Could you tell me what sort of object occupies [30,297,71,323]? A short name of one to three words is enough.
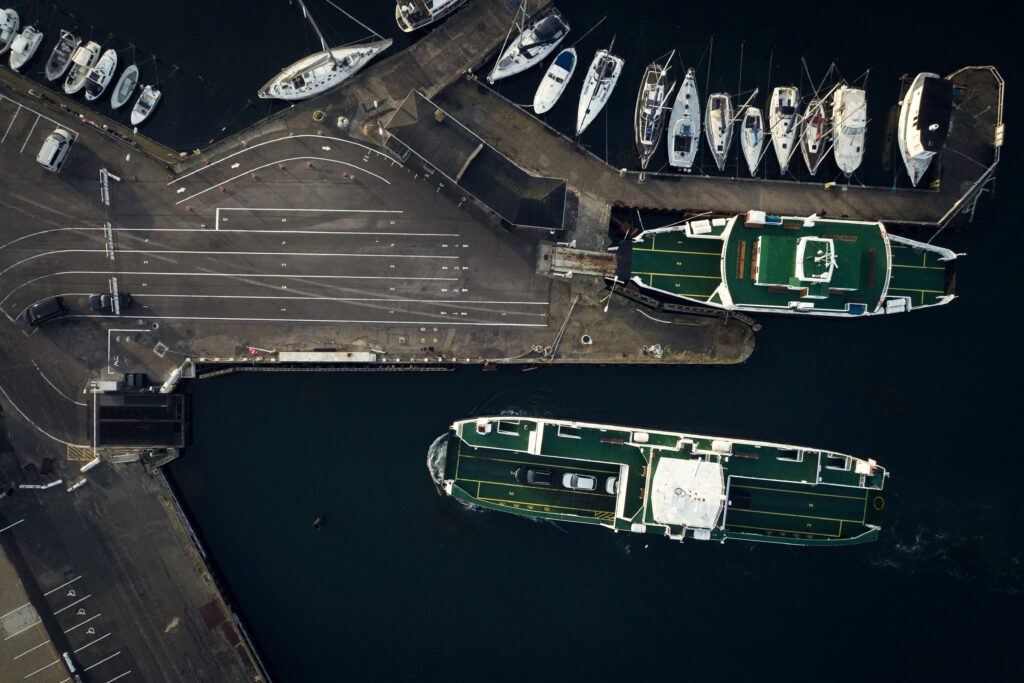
car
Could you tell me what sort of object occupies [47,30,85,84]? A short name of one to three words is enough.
boat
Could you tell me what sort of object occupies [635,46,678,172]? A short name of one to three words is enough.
boat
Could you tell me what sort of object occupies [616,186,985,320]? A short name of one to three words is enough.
ship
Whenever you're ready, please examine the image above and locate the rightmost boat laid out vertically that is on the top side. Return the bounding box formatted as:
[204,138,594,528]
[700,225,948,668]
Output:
[897,73,953,189]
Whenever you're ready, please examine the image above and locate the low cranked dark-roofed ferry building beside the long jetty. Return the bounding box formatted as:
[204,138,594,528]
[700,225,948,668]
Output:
[385,90,567,235]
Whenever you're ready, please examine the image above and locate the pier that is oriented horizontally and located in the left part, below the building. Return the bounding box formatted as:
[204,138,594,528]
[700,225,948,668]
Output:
[201,365,456,379]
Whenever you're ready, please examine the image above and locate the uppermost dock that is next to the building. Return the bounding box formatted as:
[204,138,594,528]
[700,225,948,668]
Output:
[356,0,572,86]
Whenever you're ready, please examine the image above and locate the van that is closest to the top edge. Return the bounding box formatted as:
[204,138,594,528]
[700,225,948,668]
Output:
[38,133,74,173]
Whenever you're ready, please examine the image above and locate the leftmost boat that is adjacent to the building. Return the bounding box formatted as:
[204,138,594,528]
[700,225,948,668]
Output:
[254,0,392,101]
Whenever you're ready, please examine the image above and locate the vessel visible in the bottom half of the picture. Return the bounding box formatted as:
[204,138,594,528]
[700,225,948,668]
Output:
[445,416,888,546]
